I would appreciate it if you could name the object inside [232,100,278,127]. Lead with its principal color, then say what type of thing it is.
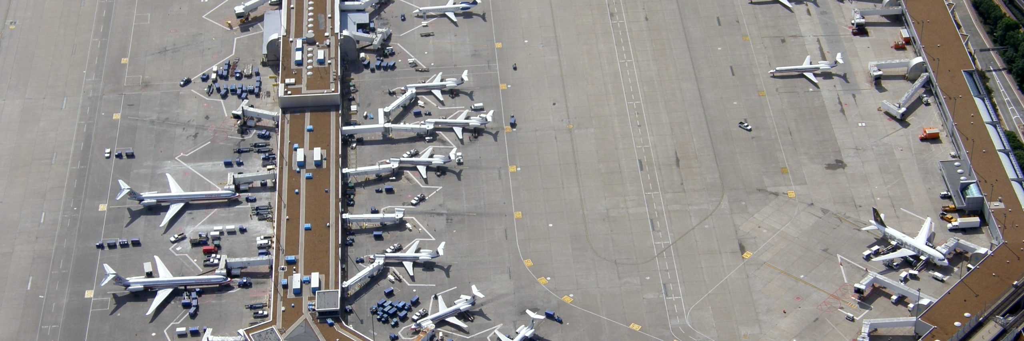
white jet bridge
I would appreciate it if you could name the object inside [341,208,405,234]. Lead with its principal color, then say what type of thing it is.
white jet bridge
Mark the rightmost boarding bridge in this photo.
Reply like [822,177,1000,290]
[938,238,987,260]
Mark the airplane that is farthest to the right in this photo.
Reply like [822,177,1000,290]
[859,205,948,265]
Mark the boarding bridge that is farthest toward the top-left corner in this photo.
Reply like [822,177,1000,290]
[234,0,267,23]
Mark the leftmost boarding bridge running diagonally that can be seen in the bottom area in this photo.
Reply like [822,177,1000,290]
[341,254,387,300]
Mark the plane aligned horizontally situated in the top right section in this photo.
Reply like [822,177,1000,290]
[769,53,842,83]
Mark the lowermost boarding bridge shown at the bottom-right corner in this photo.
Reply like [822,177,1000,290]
[857,318,916,341]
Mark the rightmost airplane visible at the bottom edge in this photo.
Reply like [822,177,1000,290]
[491,309,545,341]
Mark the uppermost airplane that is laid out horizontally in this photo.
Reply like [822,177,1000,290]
[414,0,481,24]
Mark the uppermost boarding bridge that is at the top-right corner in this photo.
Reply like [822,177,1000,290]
[852,9,903,29]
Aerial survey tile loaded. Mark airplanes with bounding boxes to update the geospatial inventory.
[769,53,842,83]
[859,205,948,265]
[434,109,494,139]
[414,0,481,24]
[401,70,472,100]
[369,241,448,276]
[400,147,461,178]
[97,256,232,315]
[112,174,241,227]
[491,309,545,341]
[410,284,487,331]
[777,0,788,8]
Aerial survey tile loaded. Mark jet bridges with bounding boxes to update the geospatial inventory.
[854,272,934,308]
[225,171,276,193]
[350,28,391,53]
[341,254,387,300]
[341,208,405,234]
[383,85,418,124]
[857,318,916,341]
[234,0,267,23]
[341,158,402,188]
[204,327,246,341]
[217,255,273,280]
[415,319,439,341]
[341,0,381,11]
[852,9,903,29]
[938,238,987,260]
[232,100,278,127]
[383,119,435,144]
[867,61,909,83]
[880,74,931,122]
